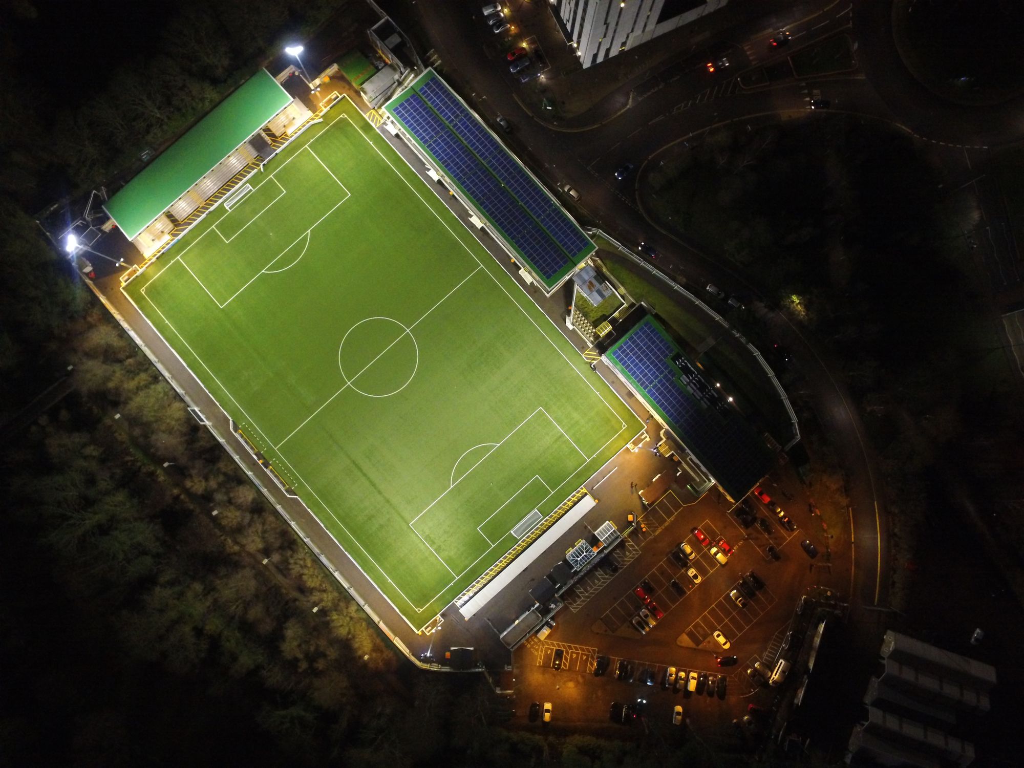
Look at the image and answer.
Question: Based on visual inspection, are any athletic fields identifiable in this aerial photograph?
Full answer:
Yes, the frame does contain an athletic field.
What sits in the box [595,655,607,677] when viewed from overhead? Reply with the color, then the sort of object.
black vehicle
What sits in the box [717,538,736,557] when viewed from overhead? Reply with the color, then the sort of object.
red car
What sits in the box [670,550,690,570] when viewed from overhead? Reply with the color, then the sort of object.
black car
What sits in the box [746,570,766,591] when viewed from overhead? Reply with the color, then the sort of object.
black car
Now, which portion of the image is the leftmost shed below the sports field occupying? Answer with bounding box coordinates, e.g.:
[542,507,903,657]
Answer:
[450,646,475,669]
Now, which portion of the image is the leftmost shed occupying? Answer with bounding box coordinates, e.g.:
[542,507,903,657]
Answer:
[361,65,400,107]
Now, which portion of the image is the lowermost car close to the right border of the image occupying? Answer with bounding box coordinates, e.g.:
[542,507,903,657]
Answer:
[969,628,981,645]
